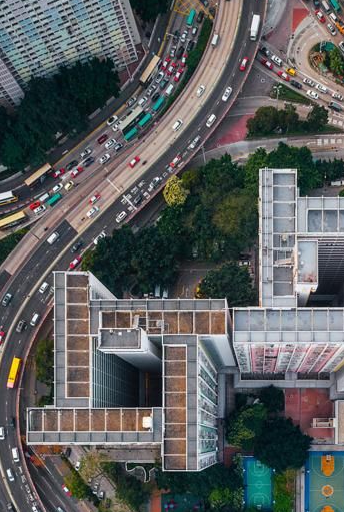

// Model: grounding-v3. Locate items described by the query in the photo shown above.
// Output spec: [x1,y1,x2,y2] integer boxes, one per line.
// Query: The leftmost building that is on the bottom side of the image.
[26,270,236,471]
